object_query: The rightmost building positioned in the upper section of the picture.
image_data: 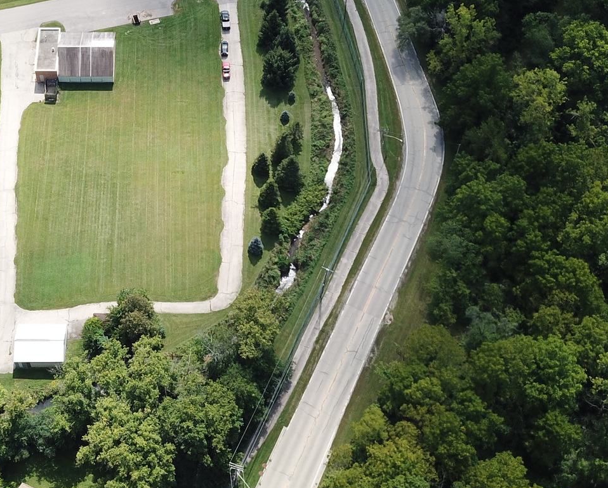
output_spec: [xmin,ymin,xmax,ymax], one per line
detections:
[58,32,115,82]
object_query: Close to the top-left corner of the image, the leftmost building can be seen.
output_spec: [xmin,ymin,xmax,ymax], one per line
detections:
[30,27,62,89]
